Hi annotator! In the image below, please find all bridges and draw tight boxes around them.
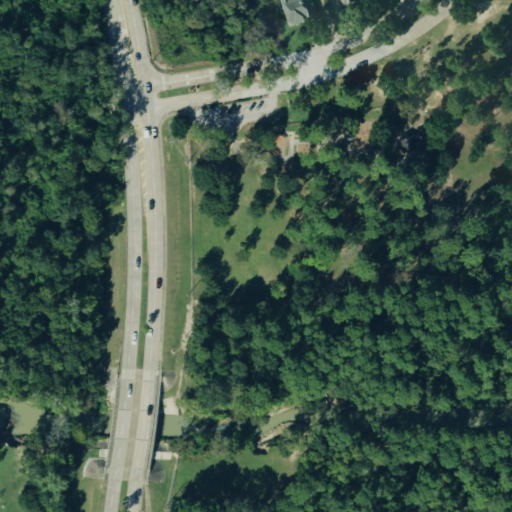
[104,370,162,482]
